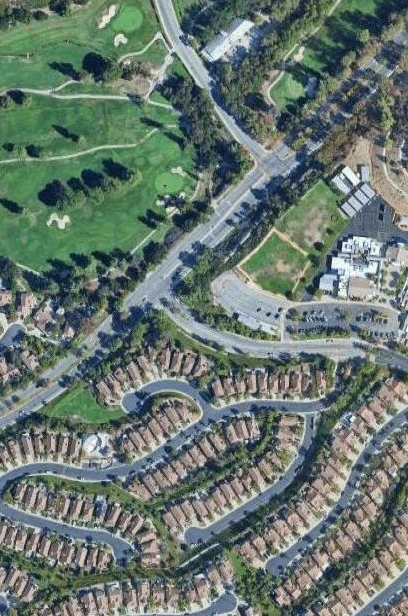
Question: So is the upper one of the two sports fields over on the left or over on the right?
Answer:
right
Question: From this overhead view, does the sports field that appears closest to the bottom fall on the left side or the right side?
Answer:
right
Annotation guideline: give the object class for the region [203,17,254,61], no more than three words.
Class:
building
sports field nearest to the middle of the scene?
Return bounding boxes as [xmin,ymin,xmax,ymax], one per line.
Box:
[239,230,308,295]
